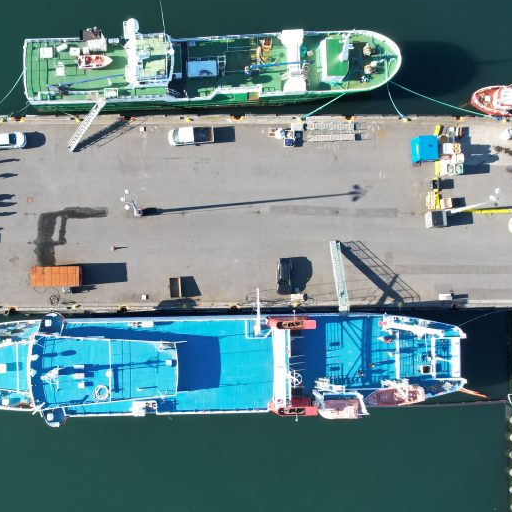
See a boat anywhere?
Yes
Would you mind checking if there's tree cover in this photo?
No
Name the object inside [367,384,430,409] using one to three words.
boat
